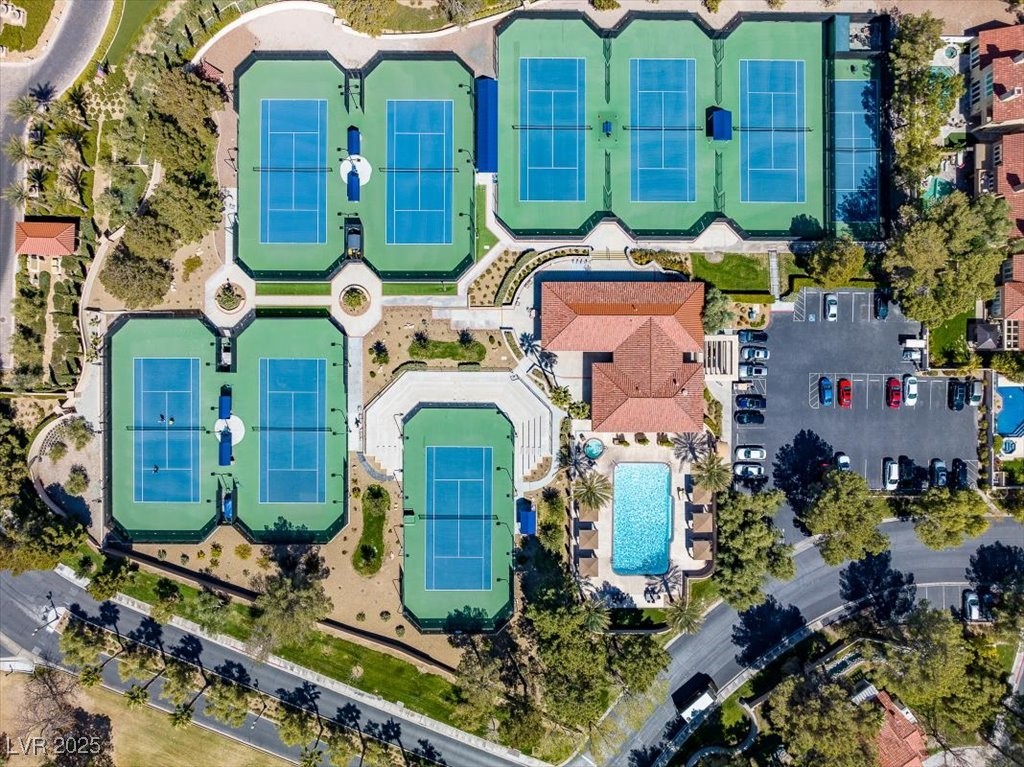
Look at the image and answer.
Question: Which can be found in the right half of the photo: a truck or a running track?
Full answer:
Looking in the right half of the photo, you will find a truck.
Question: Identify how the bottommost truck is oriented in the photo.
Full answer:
From this overhead view, the bottommost truck appears to run on a diagonal.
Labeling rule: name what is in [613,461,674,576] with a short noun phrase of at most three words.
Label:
swimming pool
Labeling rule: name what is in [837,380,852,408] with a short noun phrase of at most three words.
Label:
car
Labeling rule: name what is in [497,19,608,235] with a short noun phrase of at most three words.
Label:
tennis court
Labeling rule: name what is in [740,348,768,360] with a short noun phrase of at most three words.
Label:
vehicle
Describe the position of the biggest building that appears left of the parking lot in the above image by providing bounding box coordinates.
[541,281,705,432]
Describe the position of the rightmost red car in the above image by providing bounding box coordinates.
[885,378,901,407]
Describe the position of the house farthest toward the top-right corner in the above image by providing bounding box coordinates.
[969,24,1024,74]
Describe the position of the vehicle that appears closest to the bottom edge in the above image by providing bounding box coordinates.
[678,677,721,724]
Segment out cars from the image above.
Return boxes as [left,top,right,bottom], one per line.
[882,460,899,489]
[965,379,982,407]
[735,447,765,461]
[737,330,767,344]
[818,378,833,406]
[902,377,918,406]
[733,411,763,425]
[912,466,929,495]
[930,458,946,489]
[837,380,852,408]
[733,464,763,477]
[980,589,995,622]
[897,458,915,489]
[738,364,766,377]
[733,396,766,409]
[963,590,981,620]
[951,460,968,488]
[823,294,838,322]
[835,453,851,482]
[872,291,889,320]
[740,348,768,360]
[947,378,967,410]
[885,378,901,407]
